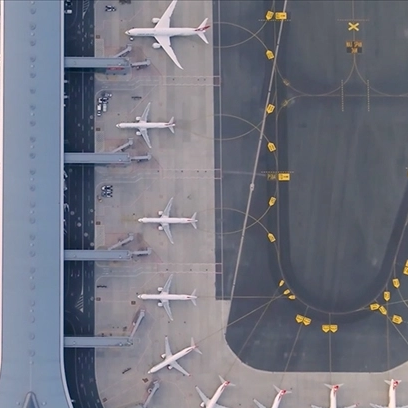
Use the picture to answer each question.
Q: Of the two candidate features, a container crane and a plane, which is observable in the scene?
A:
plane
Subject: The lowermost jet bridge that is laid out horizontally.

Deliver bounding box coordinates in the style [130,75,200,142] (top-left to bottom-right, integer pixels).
[64,312,145,347]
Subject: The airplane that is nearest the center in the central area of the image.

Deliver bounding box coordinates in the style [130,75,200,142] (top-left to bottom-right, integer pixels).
[137,198,198,244]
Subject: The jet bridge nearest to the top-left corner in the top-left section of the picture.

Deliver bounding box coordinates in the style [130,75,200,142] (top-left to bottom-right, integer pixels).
[64,44,152,75]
